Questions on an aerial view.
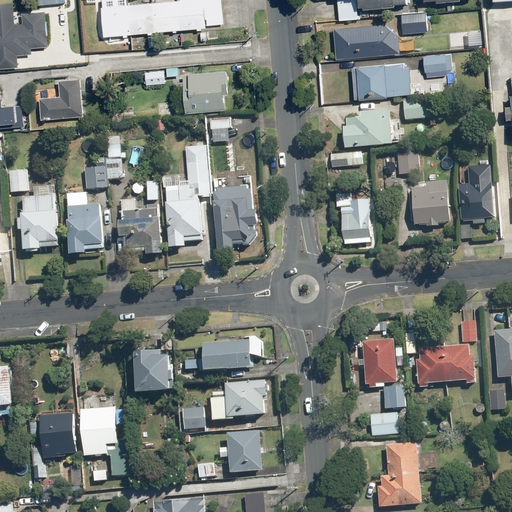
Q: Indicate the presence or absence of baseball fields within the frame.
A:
No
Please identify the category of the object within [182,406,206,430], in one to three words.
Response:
shed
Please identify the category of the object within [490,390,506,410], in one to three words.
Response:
building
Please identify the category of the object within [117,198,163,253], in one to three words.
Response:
house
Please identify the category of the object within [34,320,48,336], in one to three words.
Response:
vehicle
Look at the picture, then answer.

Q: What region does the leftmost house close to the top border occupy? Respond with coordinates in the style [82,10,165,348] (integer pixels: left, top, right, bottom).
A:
[0,4,48,71]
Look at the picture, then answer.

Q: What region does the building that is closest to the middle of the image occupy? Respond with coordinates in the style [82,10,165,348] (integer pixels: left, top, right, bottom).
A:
[213,187,258,250]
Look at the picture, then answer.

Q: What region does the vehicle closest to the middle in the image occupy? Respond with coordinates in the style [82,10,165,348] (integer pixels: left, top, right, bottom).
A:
[283,266,298,278]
